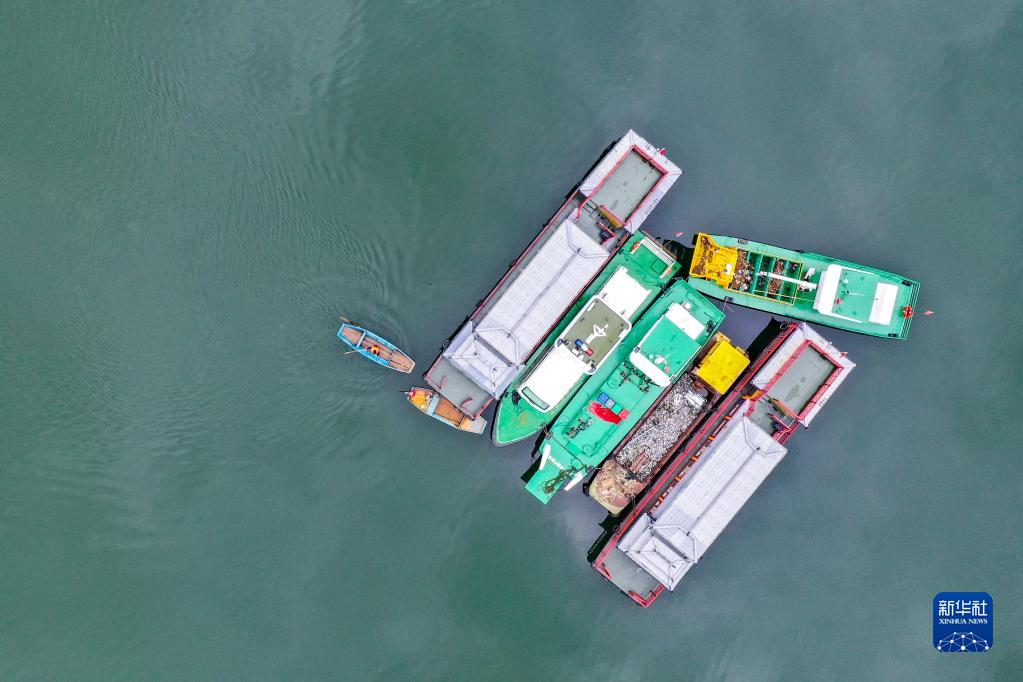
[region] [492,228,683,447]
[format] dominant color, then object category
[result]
white boat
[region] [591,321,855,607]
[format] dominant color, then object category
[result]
white ship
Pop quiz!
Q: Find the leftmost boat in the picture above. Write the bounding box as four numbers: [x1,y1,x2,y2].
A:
[337,324,416,373]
